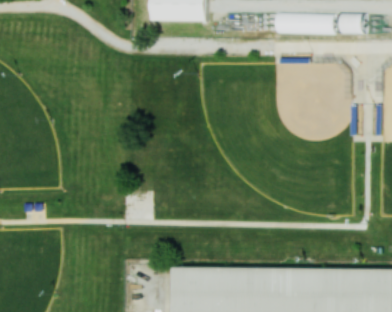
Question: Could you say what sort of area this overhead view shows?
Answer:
sports ground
